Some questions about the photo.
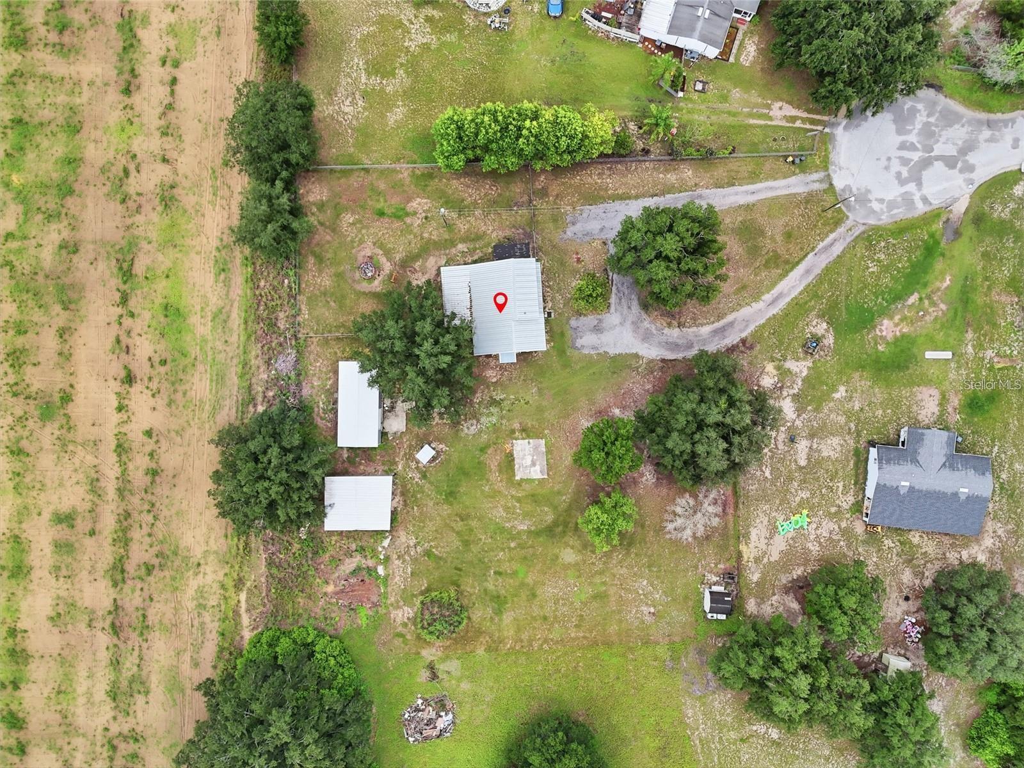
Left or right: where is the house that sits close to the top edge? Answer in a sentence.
The house that sits close to the top edge is on the right side of the image.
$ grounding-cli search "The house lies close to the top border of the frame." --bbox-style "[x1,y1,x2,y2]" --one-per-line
[640,0,760,59]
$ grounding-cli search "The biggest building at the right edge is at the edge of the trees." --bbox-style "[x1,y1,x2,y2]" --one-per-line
[858,427,994,536]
